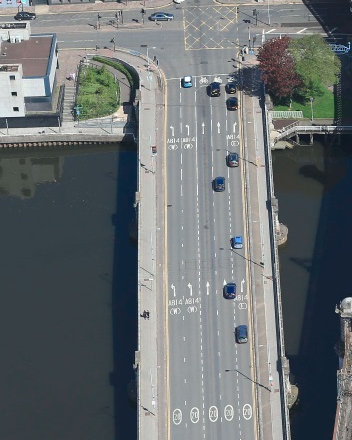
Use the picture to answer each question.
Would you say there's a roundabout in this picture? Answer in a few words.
No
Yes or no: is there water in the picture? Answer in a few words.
Yes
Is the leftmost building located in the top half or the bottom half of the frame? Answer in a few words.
top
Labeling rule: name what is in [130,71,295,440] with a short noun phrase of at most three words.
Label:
bridge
